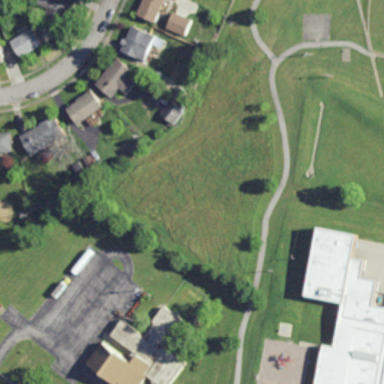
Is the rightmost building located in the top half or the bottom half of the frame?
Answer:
bottom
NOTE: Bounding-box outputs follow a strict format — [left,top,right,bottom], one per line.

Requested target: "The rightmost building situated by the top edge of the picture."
[167,13,192,36]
